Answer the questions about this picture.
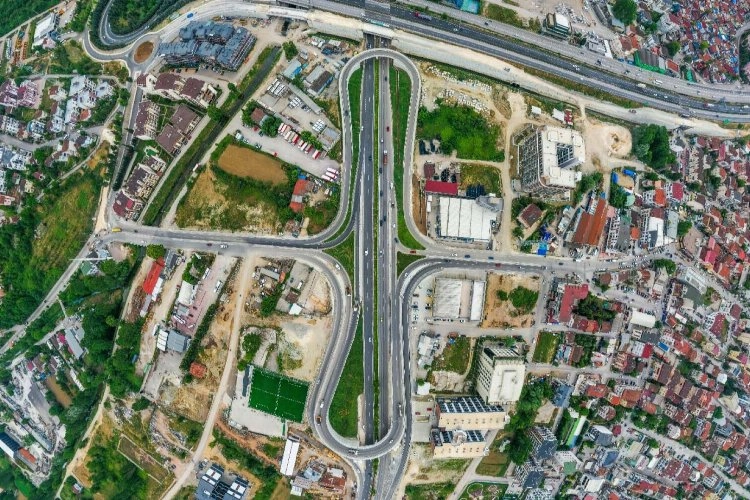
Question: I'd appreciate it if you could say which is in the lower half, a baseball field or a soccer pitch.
soccer pitch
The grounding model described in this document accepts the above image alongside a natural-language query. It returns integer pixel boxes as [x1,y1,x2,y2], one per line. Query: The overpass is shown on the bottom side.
[316,325,406,458]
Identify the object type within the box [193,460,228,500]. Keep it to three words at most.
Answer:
building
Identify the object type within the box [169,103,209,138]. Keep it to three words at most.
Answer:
building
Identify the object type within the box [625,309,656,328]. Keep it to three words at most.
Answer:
shed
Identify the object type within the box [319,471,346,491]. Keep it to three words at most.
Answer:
shed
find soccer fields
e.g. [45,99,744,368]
[248,366,308,423]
